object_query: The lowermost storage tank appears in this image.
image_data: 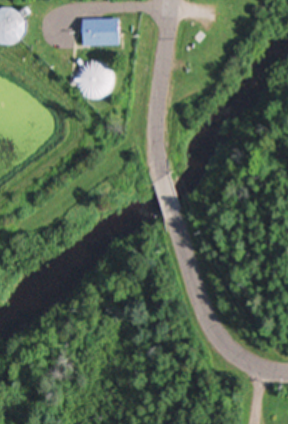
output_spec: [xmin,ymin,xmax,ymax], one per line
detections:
[72,60,117,100]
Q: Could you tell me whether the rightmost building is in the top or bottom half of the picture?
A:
top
